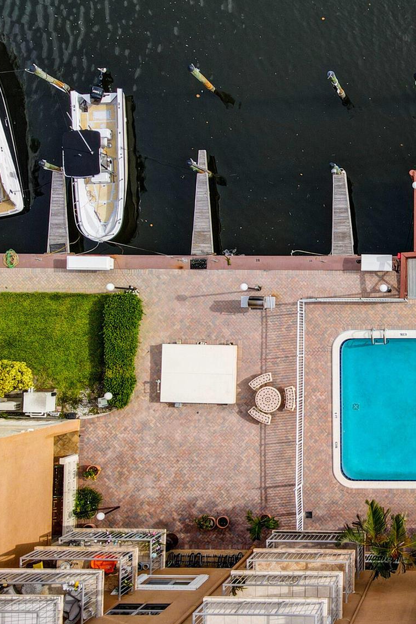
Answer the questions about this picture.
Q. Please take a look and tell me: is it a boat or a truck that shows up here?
boat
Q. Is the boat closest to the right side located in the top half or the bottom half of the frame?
top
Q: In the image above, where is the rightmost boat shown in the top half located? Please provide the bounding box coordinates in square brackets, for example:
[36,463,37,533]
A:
[62,65,131,242]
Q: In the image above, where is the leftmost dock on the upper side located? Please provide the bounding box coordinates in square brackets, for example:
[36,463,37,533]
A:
[46,171,78,253]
